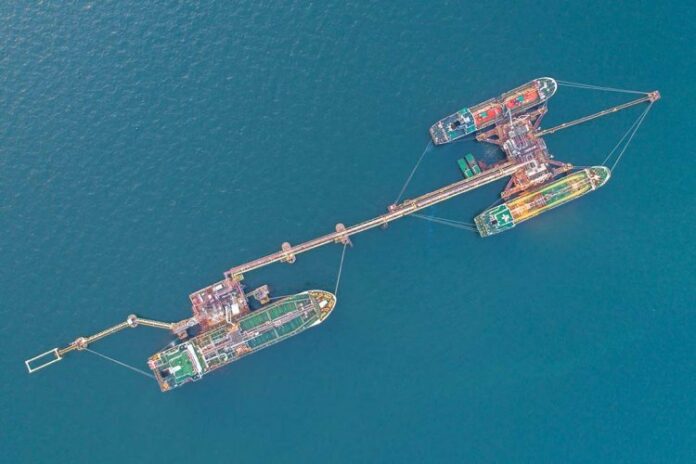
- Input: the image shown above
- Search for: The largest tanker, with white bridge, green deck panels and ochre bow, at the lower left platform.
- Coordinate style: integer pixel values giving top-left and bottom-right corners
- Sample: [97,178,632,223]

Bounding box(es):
[150,289,336,388]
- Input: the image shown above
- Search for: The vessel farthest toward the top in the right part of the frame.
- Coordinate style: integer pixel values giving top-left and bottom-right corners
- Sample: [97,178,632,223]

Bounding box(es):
[430,77,557,145]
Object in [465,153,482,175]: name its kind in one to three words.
boat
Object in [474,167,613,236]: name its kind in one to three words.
ship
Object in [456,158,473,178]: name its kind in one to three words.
boat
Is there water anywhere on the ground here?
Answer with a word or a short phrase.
Yes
